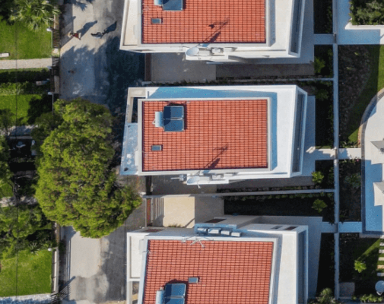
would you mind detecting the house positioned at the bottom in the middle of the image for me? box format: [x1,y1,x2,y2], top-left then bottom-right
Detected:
[126,221,310,304]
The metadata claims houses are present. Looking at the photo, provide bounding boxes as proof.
[120,0,306,63]
[120,85,308,186]
[126,221,310,304]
